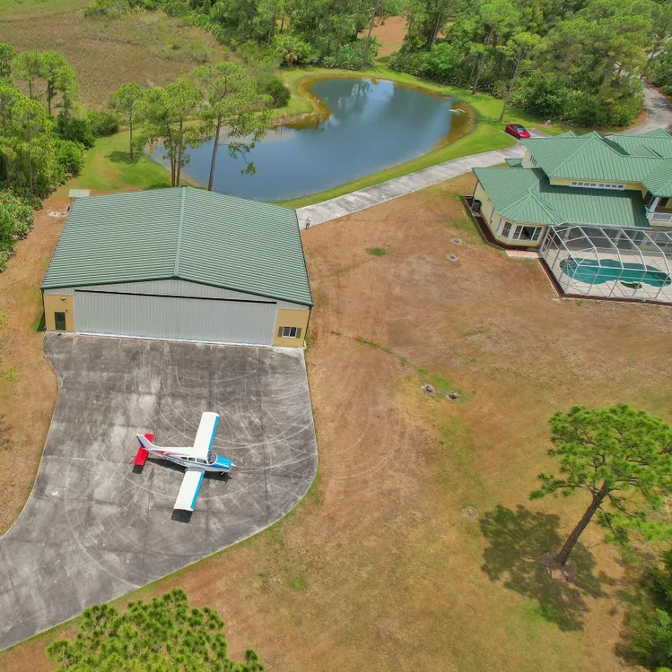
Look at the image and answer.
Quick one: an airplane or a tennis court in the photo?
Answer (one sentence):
I can see an airplane in this picture.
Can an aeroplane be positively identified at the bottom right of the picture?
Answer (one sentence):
No, there's no aeroplane to be seen at the bottom right of the picture.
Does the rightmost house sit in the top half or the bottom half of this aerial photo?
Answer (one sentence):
The top half of the photo is where the rightmost house is.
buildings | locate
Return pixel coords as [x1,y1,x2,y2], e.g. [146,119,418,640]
[41,185,314,349]
[468,116,672,254]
